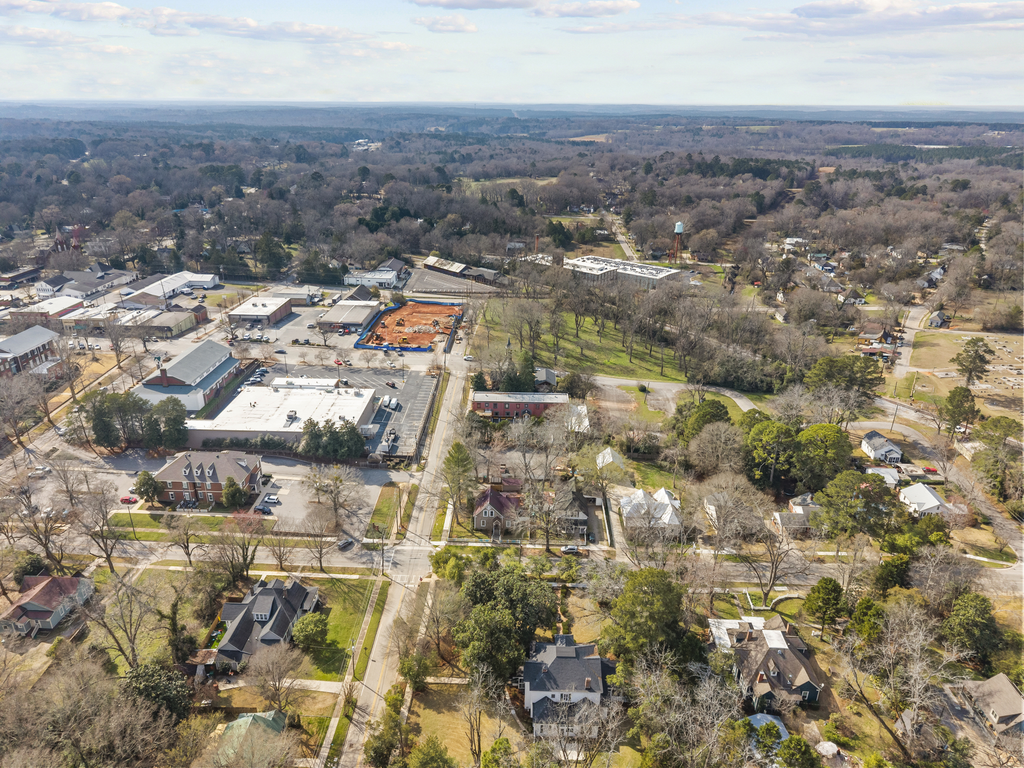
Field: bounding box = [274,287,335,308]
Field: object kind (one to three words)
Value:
building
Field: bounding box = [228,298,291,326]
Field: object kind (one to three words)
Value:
building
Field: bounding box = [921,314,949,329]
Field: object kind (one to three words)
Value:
house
